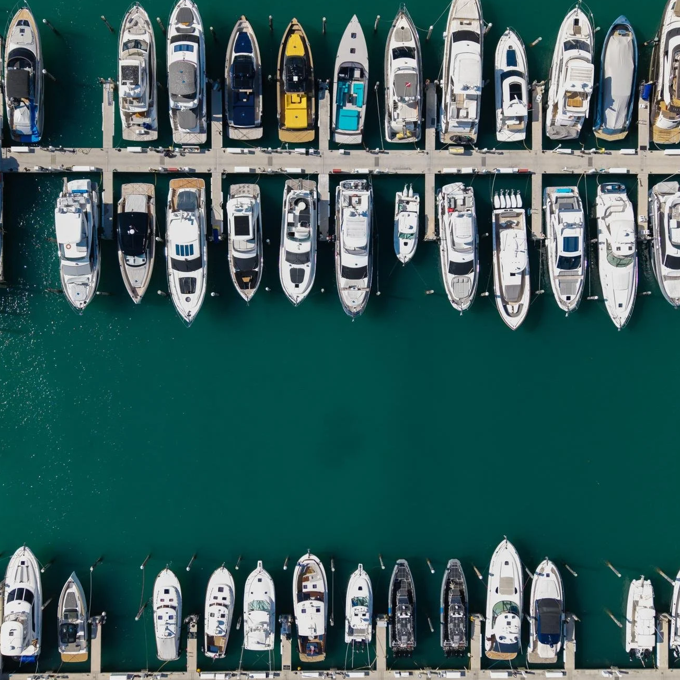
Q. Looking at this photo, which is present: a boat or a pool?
boat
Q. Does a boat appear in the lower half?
Yes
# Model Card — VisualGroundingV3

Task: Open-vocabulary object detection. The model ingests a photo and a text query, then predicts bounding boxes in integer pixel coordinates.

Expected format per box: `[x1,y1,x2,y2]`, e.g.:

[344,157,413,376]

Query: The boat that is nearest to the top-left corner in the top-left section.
[5,2,50,144]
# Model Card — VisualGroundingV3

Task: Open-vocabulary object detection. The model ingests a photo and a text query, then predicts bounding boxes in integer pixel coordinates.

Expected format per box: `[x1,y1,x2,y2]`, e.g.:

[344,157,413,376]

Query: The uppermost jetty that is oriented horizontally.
[3,148,680,175]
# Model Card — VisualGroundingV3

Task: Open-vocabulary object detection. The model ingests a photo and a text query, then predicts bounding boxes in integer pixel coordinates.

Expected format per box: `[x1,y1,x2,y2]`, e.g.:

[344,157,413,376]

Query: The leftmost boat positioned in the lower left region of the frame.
[1,540,45,662]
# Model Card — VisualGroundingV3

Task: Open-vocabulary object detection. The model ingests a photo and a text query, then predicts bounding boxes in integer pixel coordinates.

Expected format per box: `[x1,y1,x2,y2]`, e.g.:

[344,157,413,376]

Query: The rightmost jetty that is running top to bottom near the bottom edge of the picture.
[654,617,668,670]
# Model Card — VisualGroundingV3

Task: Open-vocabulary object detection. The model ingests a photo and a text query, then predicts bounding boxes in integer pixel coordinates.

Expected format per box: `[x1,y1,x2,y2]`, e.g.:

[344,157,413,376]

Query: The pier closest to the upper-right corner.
[637,84,649,149]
